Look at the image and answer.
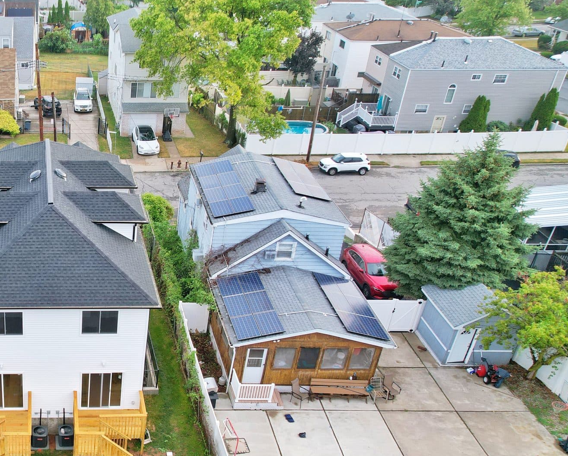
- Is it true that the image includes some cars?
Yes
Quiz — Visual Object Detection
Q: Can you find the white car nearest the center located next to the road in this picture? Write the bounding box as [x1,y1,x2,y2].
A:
[315,152,380,179]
